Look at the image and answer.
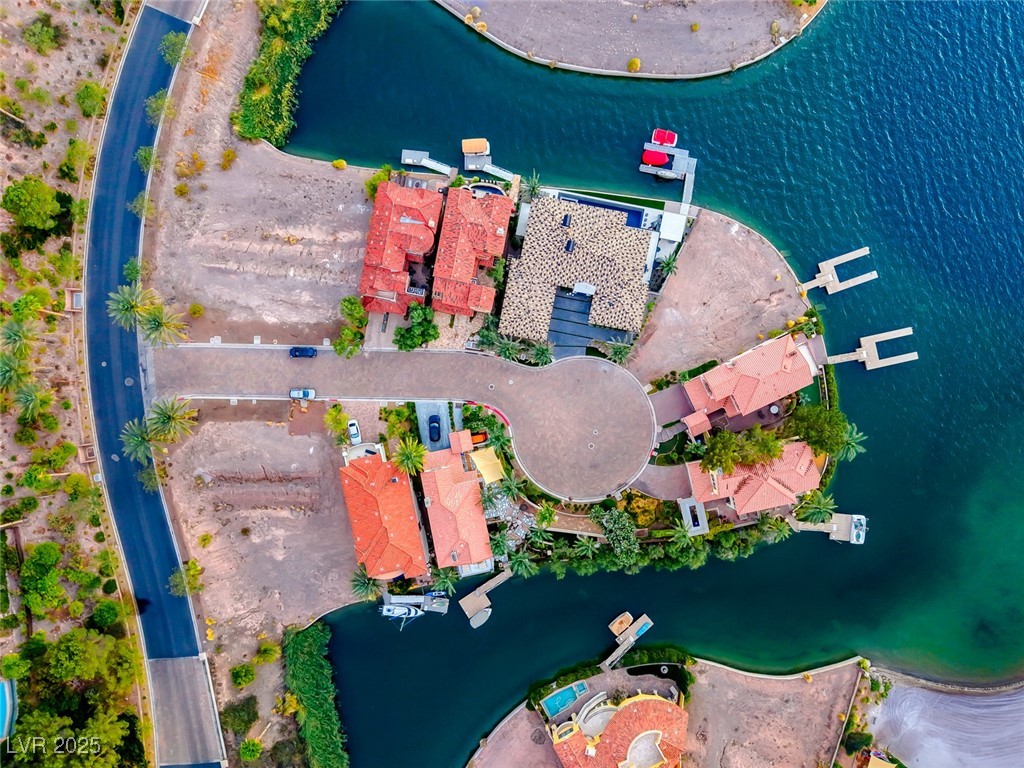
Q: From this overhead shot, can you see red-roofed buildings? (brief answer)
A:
Yes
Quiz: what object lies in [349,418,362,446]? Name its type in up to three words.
vehicle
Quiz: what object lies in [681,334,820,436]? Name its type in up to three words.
house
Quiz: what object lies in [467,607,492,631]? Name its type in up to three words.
boat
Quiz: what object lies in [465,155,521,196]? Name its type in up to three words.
pier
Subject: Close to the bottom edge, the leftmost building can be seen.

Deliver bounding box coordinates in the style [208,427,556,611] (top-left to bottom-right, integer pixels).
[551,684,692,768]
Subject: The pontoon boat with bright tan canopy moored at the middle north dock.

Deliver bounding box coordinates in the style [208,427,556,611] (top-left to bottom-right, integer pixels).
[460,136,491,156]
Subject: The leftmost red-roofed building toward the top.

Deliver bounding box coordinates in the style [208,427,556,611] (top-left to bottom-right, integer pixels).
[360,181,443,316]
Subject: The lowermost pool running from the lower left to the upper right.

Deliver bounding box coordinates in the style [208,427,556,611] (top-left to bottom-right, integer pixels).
[541,681,589,718]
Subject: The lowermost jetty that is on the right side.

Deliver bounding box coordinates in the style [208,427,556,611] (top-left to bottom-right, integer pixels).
[601,613,654,671]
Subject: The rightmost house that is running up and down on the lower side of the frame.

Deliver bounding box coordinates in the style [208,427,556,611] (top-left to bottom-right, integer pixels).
[421,430,495,578]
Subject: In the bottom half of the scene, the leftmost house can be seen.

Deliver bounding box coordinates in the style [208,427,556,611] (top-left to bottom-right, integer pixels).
[338,441,428,584]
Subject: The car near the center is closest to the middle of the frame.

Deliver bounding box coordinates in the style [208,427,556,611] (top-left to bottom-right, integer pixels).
[427,415,441,442]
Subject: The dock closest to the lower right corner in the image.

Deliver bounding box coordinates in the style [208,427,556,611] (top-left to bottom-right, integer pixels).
[786,513,852,541]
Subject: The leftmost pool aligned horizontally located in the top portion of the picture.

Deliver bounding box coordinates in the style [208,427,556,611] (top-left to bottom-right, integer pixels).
[462,183,505,195]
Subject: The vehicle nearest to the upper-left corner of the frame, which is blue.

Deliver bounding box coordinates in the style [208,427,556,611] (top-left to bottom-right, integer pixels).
[289,346,317,359]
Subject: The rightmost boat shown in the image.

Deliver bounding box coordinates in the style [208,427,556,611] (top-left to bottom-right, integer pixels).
[851,515,869,543]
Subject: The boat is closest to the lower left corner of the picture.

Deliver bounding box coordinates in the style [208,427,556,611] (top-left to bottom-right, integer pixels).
[379,604,424,627]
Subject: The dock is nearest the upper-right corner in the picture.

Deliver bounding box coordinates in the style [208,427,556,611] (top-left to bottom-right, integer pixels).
[796,247,878,296]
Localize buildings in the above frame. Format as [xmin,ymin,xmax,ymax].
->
[681,334,820,436]
[551,684,692,768]
[499,198,660,341]
[421,430,495,578]
[684,442,821,514]
[360,181,443,316]
[432,188,513,317]
[338,441,428,584]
